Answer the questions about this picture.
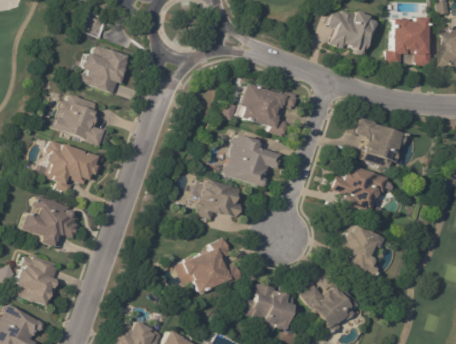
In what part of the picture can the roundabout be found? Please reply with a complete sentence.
You can find the roundabout in the top area of the picture.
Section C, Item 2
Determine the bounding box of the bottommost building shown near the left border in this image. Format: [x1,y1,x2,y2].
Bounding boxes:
[0,306,44,344]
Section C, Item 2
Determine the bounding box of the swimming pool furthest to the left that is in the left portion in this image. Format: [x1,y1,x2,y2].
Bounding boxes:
[28,143,42,163]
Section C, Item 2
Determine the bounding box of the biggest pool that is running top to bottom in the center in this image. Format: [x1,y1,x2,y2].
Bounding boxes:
[176,174,189,200]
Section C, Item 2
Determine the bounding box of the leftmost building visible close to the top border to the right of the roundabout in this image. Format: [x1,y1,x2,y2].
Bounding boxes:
[326,9,378,53]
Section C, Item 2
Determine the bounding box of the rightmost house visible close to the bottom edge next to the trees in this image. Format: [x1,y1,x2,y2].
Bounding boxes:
[298,284,358,330]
